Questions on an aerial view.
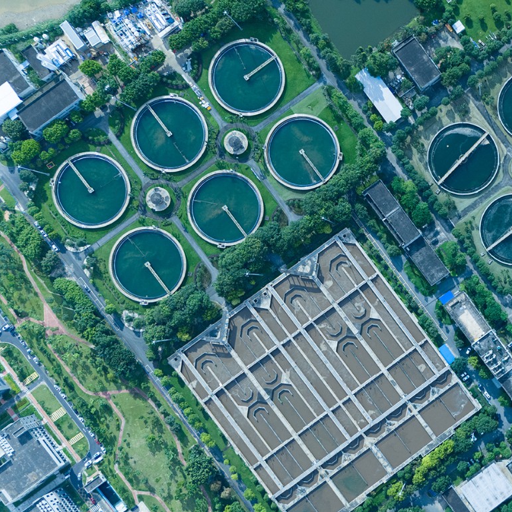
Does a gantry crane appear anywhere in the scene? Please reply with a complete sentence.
No, I find no gantry crane anywhere in the image.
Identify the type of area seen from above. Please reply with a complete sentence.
The picture captures an industrial area.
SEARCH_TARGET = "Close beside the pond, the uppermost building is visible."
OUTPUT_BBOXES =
[392,35,442,93]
